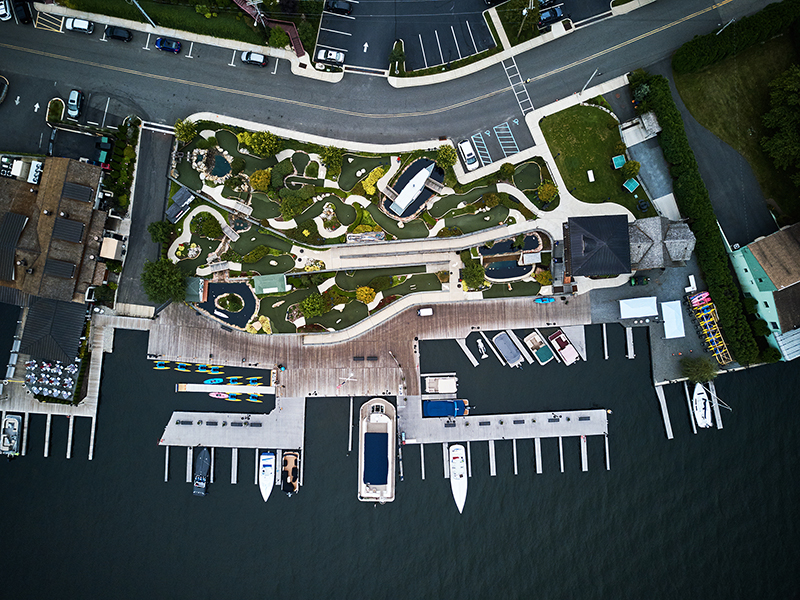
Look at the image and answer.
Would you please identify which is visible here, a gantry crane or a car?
car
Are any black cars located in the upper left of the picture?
Yes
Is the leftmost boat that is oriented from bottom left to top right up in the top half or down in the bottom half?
top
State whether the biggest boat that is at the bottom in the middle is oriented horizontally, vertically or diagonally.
vertically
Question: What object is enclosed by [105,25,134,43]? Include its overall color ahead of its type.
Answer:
black car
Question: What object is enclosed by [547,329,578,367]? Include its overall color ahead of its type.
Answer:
white boat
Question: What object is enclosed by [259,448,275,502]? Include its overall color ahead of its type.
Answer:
white boat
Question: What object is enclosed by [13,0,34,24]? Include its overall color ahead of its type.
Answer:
black car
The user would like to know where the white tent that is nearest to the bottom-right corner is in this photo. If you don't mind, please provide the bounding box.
[659,300,686,339]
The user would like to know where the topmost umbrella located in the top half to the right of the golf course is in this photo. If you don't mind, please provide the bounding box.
[612,154,627,169]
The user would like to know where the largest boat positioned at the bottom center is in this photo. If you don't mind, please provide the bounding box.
[359,398,396,508]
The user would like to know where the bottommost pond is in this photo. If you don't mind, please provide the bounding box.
[194,280,258,330]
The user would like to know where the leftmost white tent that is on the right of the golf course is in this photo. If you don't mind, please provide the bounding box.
[618,296,659,320]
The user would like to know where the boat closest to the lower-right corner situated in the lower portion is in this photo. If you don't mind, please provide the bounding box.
[691,381,734,433]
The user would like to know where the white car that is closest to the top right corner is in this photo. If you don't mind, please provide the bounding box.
[457,138,478,172]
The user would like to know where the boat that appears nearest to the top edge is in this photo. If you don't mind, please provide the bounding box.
[388,163,435,219]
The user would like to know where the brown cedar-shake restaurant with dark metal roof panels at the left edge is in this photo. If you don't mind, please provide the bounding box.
[0,157,109,309]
